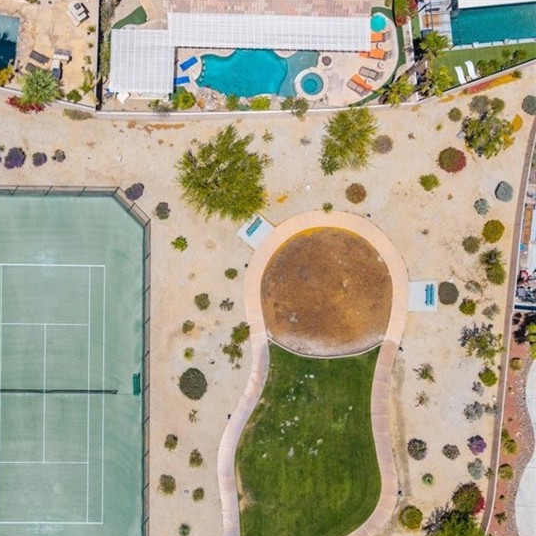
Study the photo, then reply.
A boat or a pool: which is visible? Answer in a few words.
pool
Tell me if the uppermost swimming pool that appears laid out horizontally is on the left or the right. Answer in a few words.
right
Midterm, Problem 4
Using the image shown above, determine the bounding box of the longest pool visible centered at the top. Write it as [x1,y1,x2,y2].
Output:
[194,48,323,100]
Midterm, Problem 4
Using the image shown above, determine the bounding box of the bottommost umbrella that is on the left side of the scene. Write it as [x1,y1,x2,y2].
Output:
[115,92,131,108]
